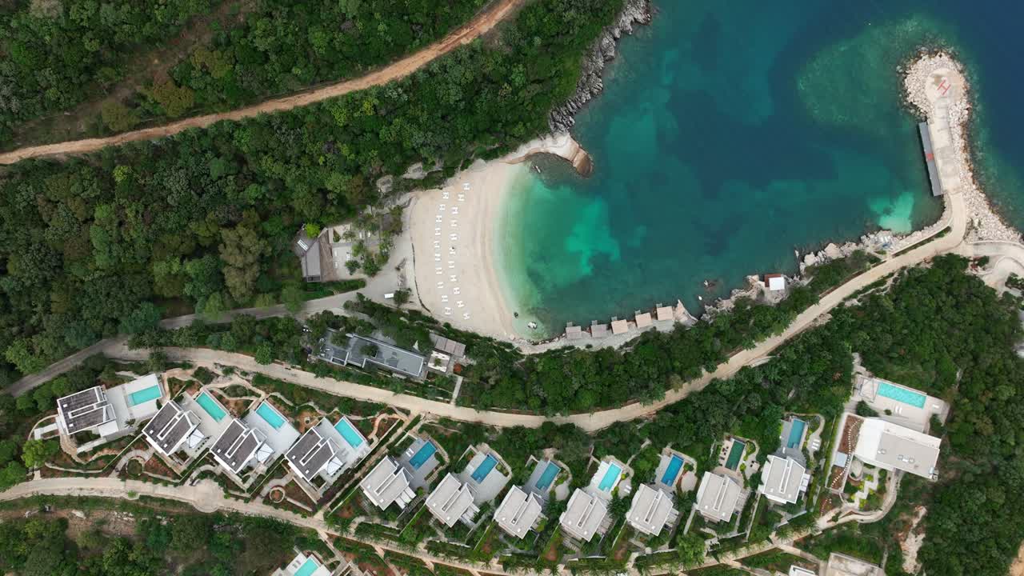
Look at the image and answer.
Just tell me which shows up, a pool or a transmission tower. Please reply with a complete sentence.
This aerial view contains a pool.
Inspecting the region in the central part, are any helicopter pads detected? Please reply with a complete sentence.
No, there's no helicopter pad to be seen in the central part.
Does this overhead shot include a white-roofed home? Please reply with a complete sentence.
Yes, I can see a white-roofed home in this picture.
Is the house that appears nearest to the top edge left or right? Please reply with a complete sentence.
You can find the house that appears nearest to the top edge on the left side of the picture.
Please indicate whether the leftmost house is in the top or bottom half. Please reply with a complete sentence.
The bottom half of the photo is where the leftmost house is.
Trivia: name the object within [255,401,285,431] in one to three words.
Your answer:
swimming pool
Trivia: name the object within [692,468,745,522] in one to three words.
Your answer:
house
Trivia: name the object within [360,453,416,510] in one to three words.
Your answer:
house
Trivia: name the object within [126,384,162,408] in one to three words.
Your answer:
swimming pool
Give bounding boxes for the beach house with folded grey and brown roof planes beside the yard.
[294,225,338,280]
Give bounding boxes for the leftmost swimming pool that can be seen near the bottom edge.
[292,556,320,576]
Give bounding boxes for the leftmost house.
[56,386,124,435]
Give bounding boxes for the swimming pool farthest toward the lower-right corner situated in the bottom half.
[877,381,928,410]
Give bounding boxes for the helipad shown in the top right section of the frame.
[924,67,965,106]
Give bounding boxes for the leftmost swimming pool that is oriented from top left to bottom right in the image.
[193,390,227,423]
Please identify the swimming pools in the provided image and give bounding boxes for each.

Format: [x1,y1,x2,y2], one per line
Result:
[597,462,623,494]
[193,390,227,423]
[534,461,561,494]
[470,455,499,485]
[877,381,928,410]
[333,418,363,449]
[786,418,807,449]
[292,556,320,576]
[408,440,437,472]
[126,384,162,408]
[255,401,285,431]
[660,454,685,488]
